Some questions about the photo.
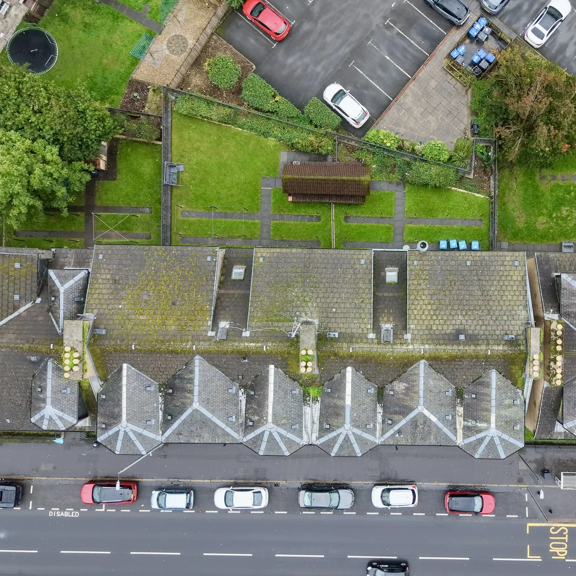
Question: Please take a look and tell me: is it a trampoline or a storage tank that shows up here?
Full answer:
I can see a trampoline in this picture.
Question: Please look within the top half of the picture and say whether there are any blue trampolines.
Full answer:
No, looking within the top half of the picture, there is no blue trampoline.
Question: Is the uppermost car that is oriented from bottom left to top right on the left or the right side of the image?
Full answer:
It is on the right.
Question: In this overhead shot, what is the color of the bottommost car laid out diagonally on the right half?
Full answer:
The bottommost car laid out diagonally on the right half is white.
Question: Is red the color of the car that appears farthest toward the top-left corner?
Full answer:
Yes, red is the color of the car that appears farthest toward the top-left corner.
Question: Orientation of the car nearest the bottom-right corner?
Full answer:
The car nearest the bottom-right corner is laid out from side to side.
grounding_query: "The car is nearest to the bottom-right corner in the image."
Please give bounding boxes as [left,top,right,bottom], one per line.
[444,490,497,517]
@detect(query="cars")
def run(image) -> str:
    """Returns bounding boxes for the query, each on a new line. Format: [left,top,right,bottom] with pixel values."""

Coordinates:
[242,0,292,42]
[370,483,419,510]
[444,490,497,517]
[213,485,270,512]
[525,0,569,50]
[480,0,510,17]
[150,487,196,512]
[297,485,356,512]
[365,562,410,576]
[323,82,371,131]
[422,0,471,29]
[81,480,138,507]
